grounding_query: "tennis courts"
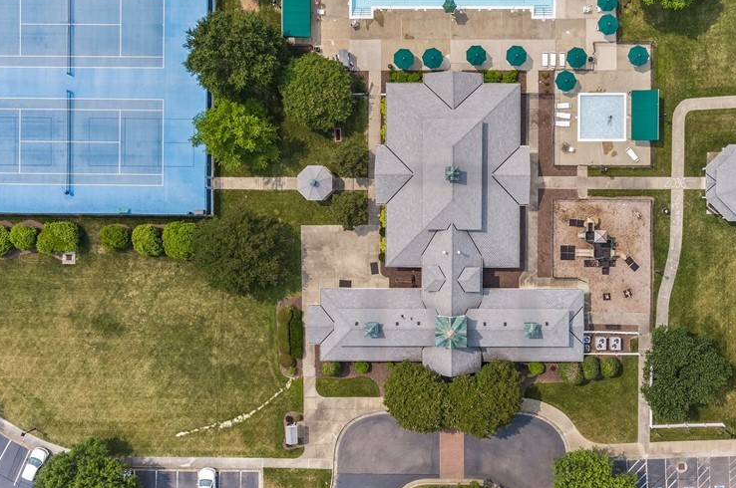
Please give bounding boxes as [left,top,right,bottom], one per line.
[0,0,164,77]
[0,89,195,193]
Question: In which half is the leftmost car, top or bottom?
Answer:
bottom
